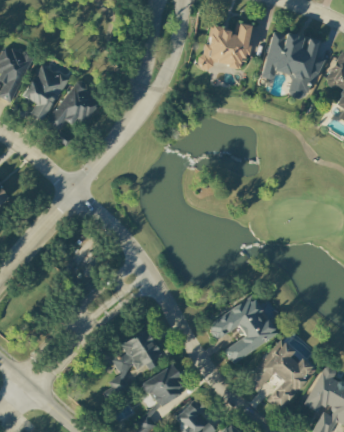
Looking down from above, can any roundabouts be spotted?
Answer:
No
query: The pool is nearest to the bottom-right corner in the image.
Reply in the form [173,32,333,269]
[287,335,316,362]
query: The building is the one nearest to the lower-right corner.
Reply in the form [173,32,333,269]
[304,364,344,432]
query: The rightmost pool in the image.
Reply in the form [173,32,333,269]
[318,104,344,140]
